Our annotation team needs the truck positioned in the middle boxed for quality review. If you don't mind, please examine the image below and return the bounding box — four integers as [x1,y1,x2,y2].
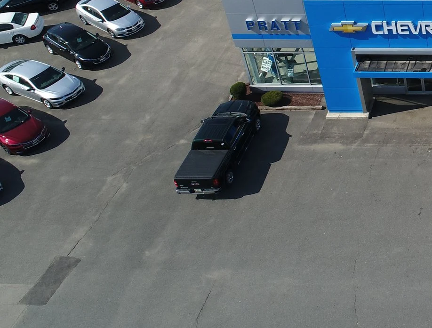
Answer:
[171,102,261,198]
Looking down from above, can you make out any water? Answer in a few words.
No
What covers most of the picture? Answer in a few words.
paved ground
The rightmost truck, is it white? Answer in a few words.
No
